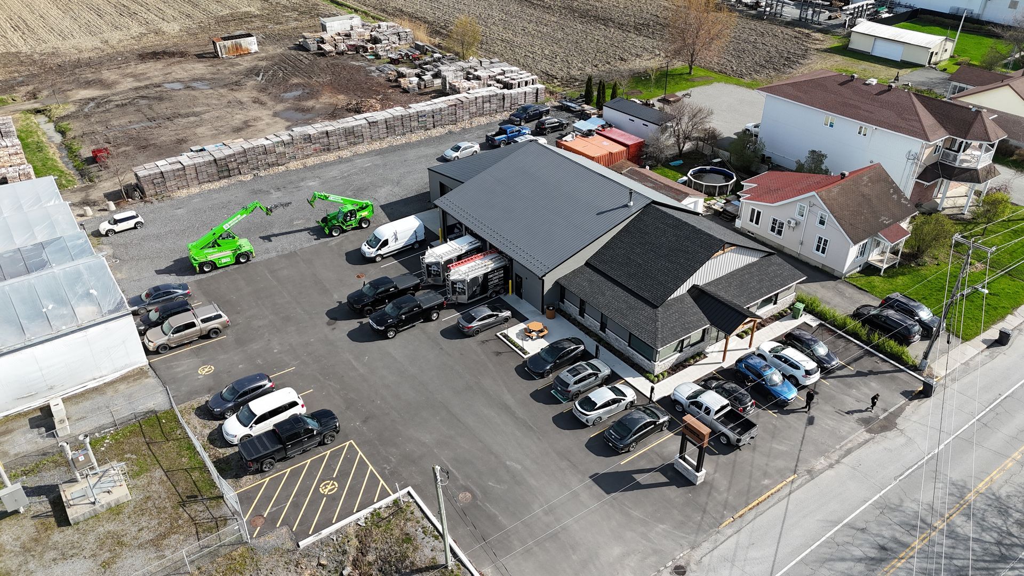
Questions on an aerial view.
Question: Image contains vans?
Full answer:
Yes, this view includes a van.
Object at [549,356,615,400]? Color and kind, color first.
gray car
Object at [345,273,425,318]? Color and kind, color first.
black truck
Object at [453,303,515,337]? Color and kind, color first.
gray car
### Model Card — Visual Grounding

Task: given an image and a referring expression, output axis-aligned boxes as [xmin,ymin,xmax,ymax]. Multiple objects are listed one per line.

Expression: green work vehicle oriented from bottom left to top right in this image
[178,202,295,276]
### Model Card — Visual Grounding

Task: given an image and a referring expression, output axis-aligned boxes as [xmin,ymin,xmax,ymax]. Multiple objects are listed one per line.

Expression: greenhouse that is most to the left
[0,171,148,419]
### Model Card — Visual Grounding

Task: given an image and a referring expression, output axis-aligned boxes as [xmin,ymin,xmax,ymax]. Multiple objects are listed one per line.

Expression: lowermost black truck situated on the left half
[235,410,342,474]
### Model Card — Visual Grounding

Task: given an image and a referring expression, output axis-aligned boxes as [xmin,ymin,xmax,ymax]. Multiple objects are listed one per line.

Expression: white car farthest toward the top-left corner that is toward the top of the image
[99,210,144,236]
